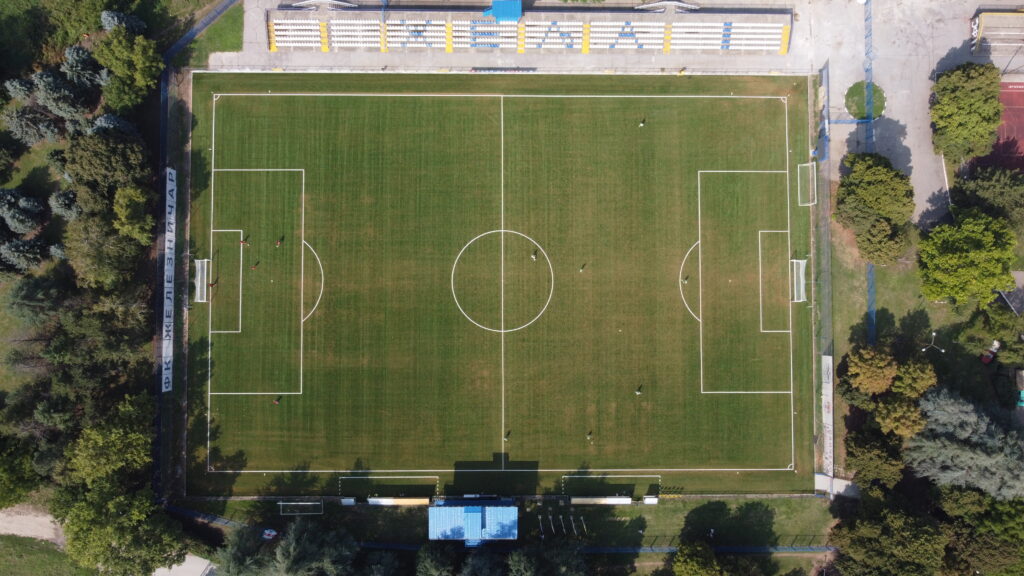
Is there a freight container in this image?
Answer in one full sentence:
No, no freight container is visible in the view.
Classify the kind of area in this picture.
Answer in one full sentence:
This looks like a sports ground.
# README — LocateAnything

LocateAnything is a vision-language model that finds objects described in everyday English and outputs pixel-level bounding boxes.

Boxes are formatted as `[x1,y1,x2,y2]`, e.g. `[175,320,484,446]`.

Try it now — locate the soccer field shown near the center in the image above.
[186,74,814,498]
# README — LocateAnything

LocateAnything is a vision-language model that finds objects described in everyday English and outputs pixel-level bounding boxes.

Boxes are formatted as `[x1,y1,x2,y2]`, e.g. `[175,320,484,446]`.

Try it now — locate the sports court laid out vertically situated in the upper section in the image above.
[985,82,1024,171]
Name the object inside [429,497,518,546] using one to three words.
building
